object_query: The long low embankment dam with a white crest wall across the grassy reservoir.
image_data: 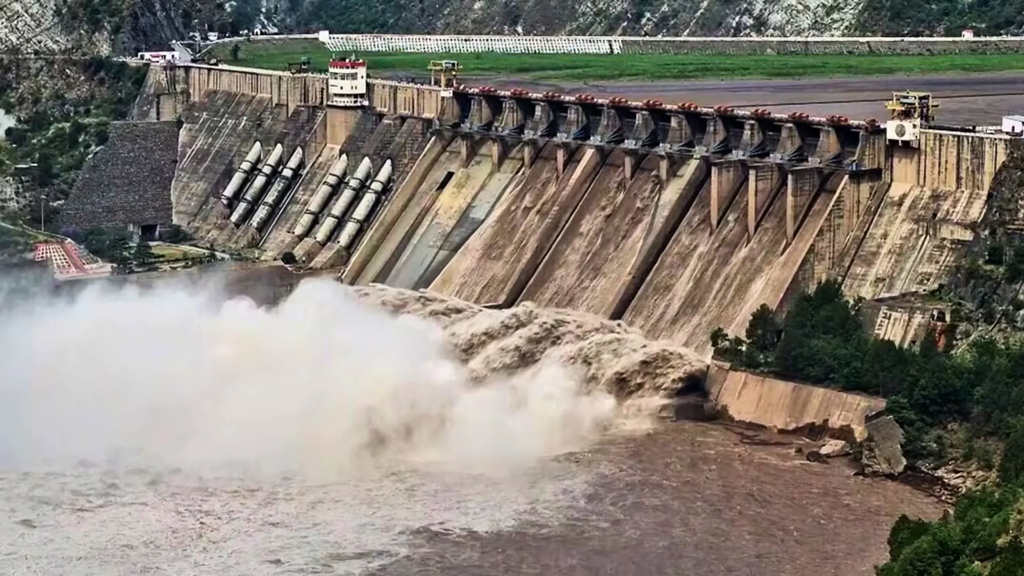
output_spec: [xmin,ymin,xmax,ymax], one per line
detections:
[318,33,1024,59]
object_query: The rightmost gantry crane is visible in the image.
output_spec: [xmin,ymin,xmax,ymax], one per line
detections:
[888,88,934,130]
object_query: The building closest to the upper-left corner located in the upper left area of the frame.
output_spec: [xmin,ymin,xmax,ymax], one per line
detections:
[137,50,183,65]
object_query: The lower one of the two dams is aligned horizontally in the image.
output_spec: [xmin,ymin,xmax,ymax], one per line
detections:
[141,61,1024,321]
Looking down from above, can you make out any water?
Yes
